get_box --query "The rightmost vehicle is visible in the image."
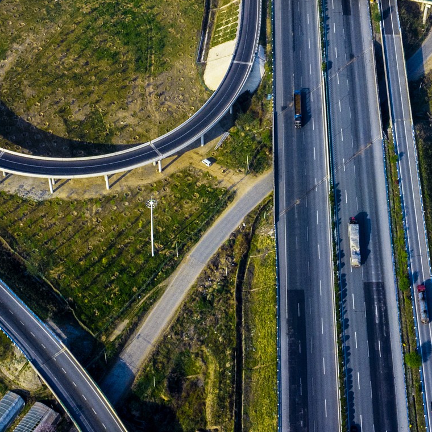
[415,288,429,326]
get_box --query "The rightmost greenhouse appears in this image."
[16,402,61,432]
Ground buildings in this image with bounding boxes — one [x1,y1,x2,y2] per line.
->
[16,402,61,432]
[0,393,25,432]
